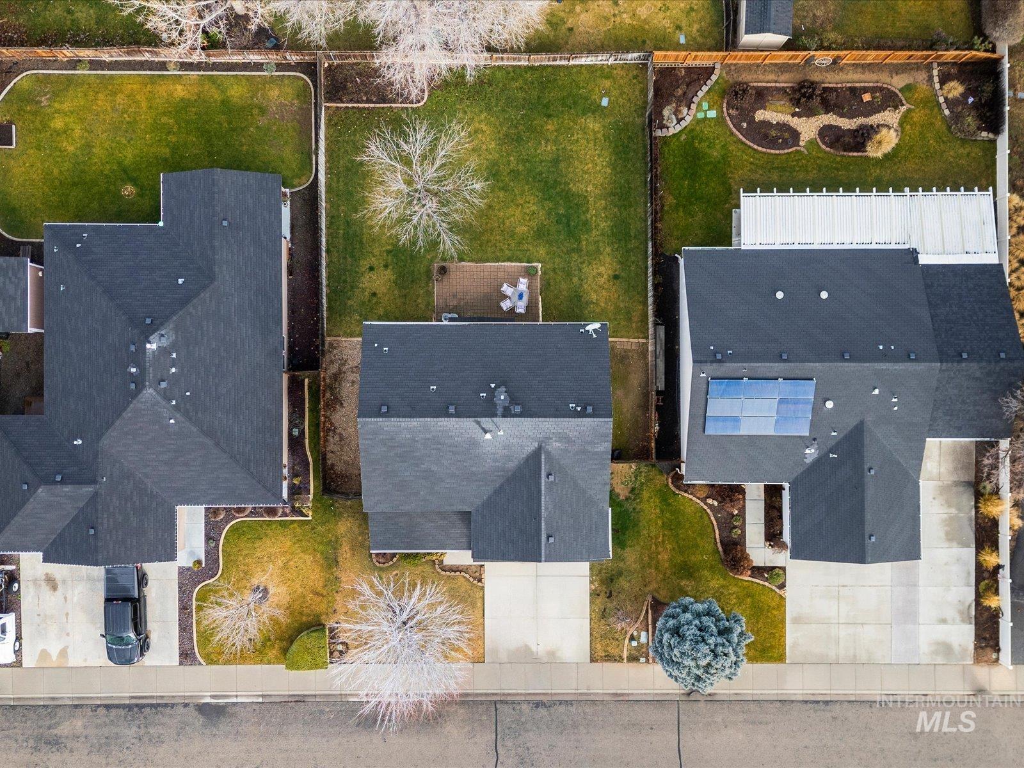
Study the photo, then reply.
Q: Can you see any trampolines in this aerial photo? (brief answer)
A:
No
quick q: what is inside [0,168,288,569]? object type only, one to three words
house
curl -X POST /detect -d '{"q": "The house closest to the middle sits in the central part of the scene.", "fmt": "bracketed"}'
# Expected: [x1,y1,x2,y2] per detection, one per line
[356,318,612,567]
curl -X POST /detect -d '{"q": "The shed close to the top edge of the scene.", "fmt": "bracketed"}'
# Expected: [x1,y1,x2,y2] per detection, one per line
[739,0,792,49]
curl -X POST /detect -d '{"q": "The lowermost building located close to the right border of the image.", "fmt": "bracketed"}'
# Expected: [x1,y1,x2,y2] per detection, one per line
[665,246,1024,565]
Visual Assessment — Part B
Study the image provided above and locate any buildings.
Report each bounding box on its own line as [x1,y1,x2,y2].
[0,168,288,569]
[356,318,612,567]
[665,246,1024,565]
[739,0,792,49]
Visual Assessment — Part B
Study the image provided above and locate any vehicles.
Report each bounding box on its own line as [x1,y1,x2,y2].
[0,568,20,669]
[97,565,148,671]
